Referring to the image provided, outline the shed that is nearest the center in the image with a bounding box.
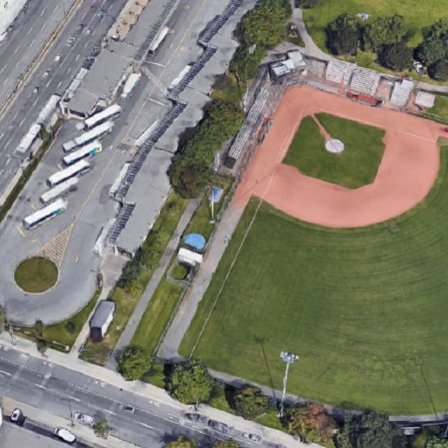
[177,247,203,268]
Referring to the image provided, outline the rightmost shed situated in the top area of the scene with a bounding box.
[414,89,437,109]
